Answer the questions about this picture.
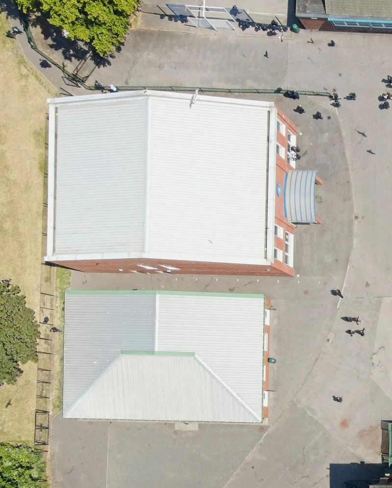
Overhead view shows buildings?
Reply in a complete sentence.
Yes, the image includes a building.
